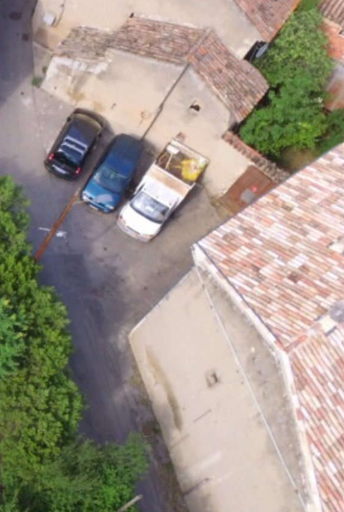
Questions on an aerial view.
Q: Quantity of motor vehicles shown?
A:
three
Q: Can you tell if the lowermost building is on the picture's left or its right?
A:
right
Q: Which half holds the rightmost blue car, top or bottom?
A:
top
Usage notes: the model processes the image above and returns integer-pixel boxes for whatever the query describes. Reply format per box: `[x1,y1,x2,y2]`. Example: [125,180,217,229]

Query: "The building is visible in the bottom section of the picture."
[128,142,344,512]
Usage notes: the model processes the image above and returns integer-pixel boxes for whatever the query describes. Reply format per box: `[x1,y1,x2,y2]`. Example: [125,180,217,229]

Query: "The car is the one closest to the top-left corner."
[46,105,108,183]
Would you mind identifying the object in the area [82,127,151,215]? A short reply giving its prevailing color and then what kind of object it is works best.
blue car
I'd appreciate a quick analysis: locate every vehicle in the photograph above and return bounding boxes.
[46,105,108,183]
[126,139,206,243]
[82,127,151,215]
